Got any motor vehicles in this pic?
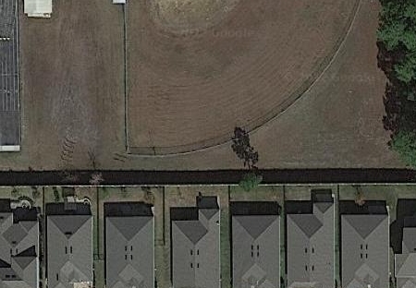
No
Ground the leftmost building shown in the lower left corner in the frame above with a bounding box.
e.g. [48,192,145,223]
[0,213,38,288]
